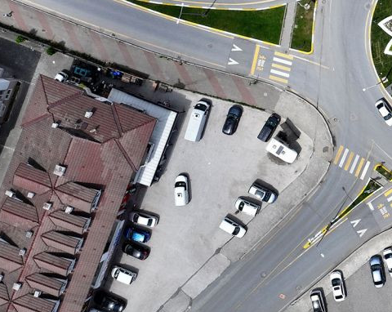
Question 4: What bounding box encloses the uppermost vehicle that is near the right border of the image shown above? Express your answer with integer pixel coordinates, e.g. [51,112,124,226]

[375,97,392,126]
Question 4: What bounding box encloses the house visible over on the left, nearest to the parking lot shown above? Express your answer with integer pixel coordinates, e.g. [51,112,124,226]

[0,73,157,312]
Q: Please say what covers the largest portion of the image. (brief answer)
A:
paved ground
